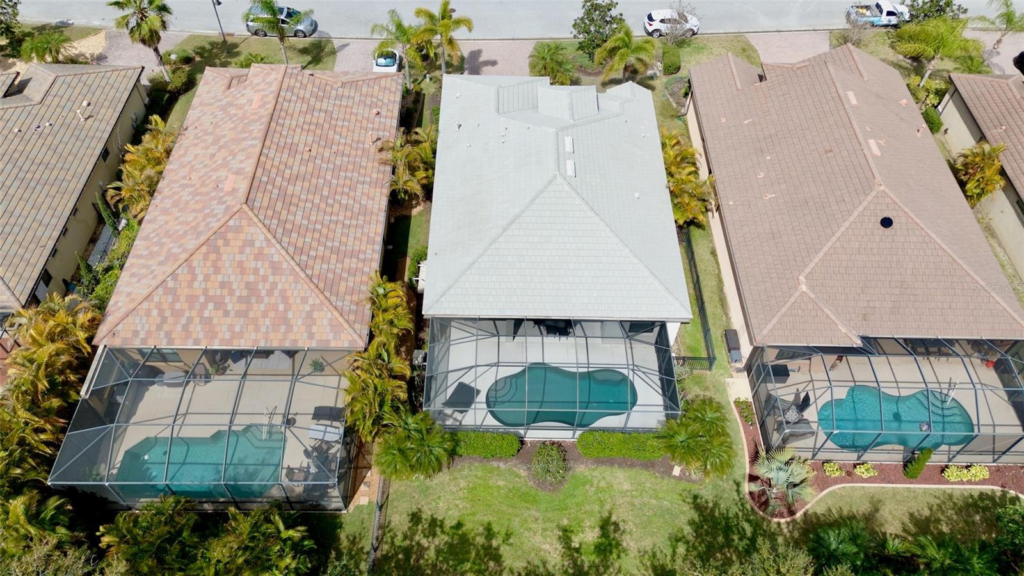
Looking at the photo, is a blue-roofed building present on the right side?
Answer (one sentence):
No, I can find no blue-roofed building on the right side.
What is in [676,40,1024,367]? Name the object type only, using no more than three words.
house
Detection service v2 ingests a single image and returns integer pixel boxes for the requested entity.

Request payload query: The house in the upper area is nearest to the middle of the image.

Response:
[420,73,693,345]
